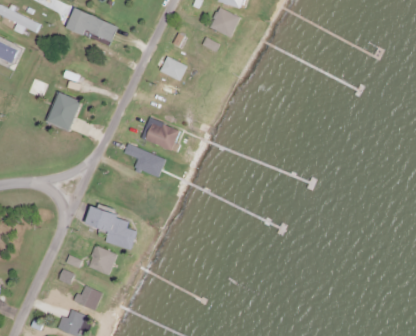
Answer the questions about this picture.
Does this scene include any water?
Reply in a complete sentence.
Yes, some water is visible.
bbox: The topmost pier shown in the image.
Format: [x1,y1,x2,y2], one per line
[280,6,386,60]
